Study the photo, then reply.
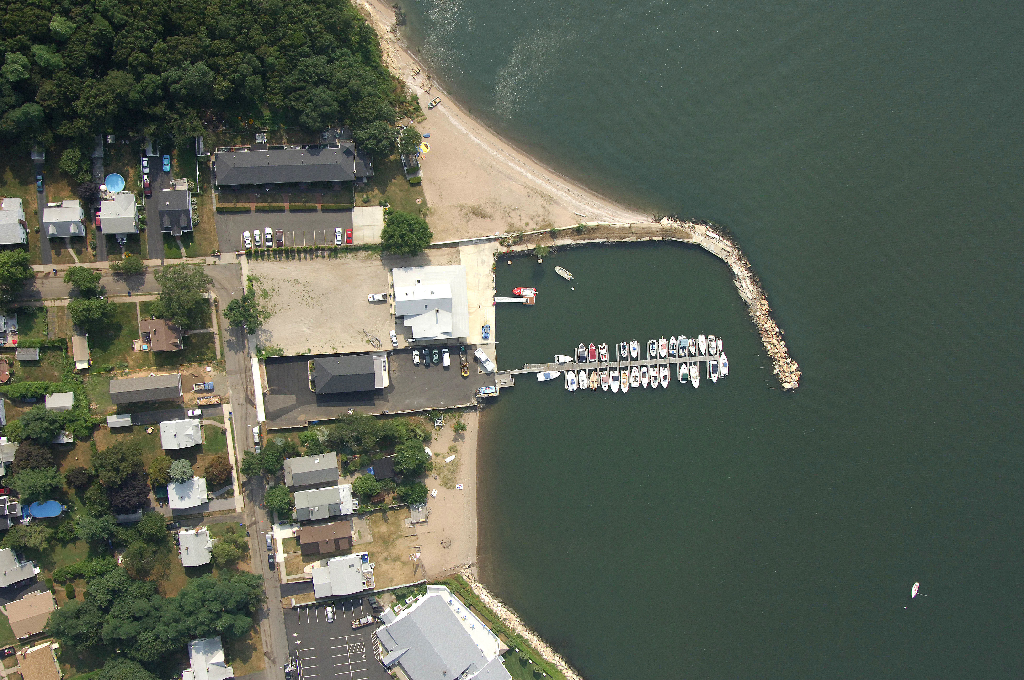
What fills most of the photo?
water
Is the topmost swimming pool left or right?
left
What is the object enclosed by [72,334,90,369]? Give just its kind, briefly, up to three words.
building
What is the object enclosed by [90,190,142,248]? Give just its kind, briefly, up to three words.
house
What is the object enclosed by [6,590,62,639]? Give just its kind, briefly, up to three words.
house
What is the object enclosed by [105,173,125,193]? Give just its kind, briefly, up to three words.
swimming pool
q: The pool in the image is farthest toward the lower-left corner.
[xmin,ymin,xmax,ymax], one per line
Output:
[29,500,62,518]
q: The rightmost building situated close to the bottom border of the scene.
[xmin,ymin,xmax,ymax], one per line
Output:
[376,584,512,680]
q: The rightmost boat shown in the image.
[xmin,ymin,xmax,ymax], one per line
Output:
[911,582,930,602]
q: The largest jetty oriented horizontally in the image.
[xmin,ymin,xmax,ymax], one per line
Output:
[524,337,720,388]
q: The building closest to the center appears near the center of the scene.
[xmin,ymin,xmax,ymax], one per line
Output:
[392,265,469,342]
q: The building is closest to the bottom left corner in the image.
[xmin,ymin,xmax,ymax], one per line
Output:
[17,641,63,680]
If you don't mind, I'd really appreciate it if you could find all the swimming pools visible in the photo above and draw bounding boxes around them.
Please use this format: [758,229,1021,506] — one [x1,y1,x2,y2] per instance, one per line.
[105,173,125,193]
[29,500,62,518]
